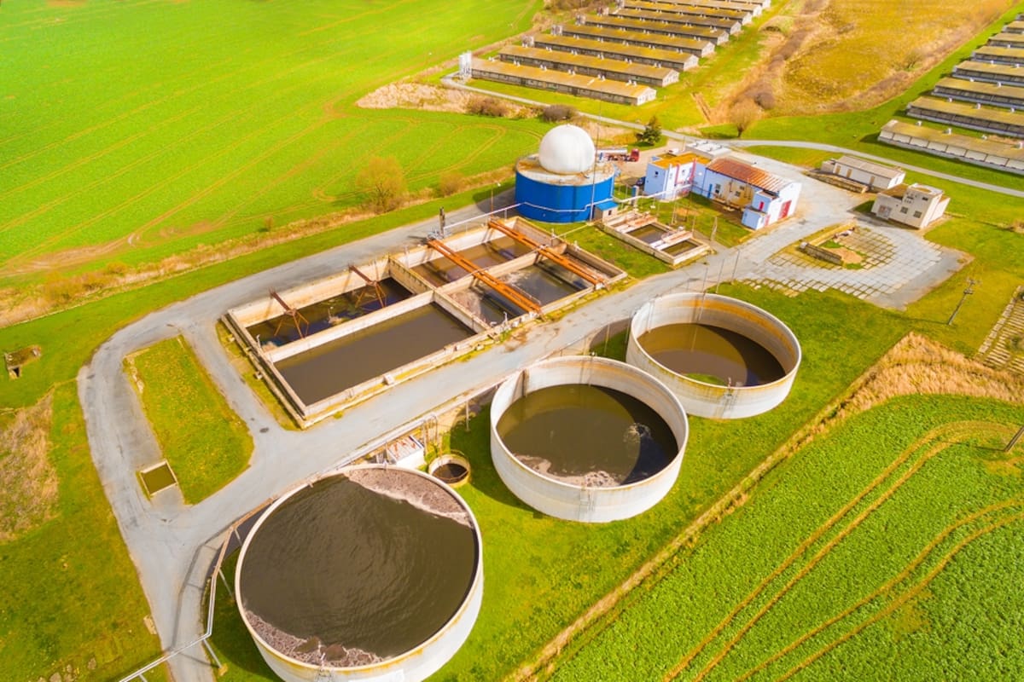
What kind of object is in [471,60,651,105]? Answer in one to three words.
barn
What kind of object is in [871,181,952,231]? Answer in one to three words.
building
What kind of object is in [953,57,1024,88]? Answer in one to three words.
barn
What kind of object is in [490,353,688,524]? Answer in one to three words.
storage tank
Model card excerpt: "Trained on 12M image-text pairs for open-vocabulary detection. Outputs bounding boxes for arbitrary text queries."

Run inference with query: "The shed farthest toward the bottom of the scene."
[384,431,425,467]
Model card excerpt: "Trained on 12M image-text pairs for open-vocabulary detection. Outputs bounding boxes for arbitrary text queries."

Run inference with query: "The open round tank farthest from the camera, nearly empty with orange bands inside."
[627,289,801,420]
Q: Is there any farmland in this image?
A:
Yes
